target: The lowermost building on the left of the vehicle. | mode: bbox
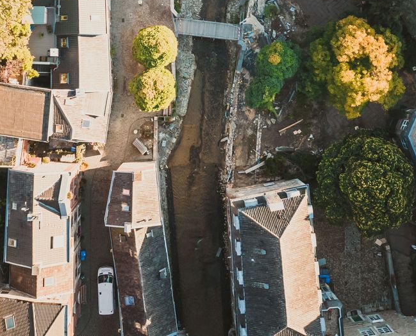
[0,286,70,336]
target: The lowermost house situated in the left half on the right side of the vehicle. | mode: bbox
[109,225,179,336]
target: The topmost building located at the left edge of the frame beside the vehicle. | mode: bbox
[4,162,79,269]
